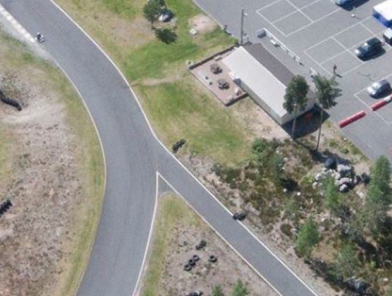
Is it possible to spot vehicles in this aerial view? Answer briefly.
Yes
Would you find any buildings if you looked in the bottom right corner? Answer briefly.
No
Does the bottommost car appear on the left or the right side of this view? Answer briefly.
right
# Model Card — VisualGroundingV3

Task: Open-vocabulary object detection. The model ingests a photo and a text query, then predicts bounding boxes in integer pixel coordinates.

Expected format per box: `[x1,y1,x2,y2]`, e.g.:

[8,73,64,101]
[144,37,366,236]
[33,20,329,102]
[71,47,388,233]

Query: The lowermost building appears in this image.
[222,45,314,128]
